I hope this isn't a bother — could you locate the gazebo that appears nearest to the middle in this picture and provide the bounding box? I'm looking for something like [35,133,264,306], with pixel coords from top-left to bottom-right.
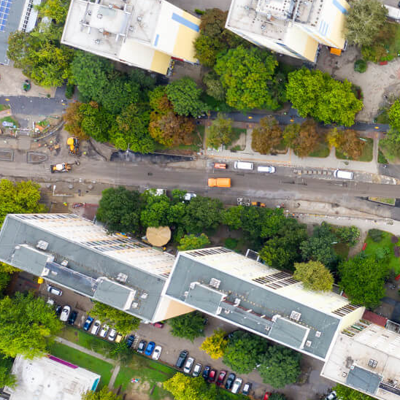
[146,225,173,248]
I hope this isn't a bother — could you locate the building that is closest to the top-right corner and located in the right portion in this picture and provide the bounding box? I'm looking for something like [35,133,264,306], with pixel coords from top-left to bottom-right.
[225,0,351,66]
